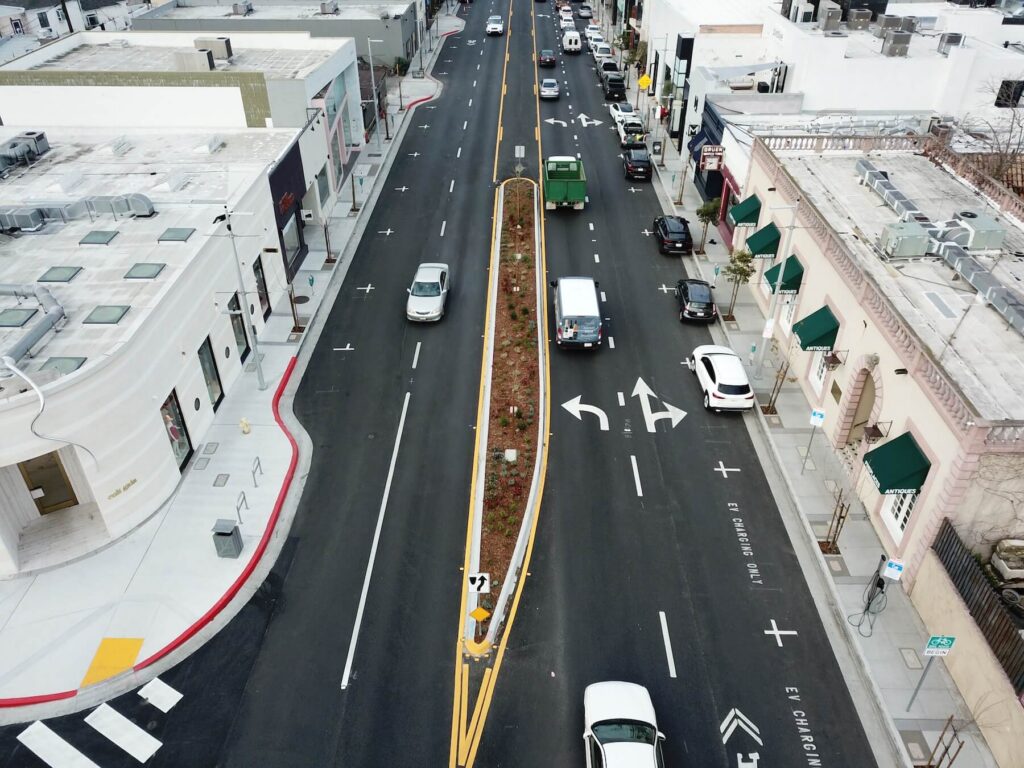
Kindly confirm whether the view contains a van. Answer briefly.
Yes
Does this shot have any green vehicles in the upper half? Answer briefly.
Yes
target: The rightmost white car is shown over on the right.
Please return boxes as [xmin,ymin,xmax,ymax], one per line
[687,335,757,409]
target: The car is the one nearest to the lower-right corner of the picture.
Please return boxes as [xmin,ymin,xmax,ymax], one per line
[578,681,673,768]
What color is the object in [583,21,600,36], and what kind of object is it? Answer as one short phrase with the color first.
white car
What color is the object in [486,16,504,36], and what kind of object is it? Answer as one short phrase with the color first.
white car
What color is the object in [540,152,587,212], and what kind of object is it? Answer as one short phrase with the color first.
green truck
